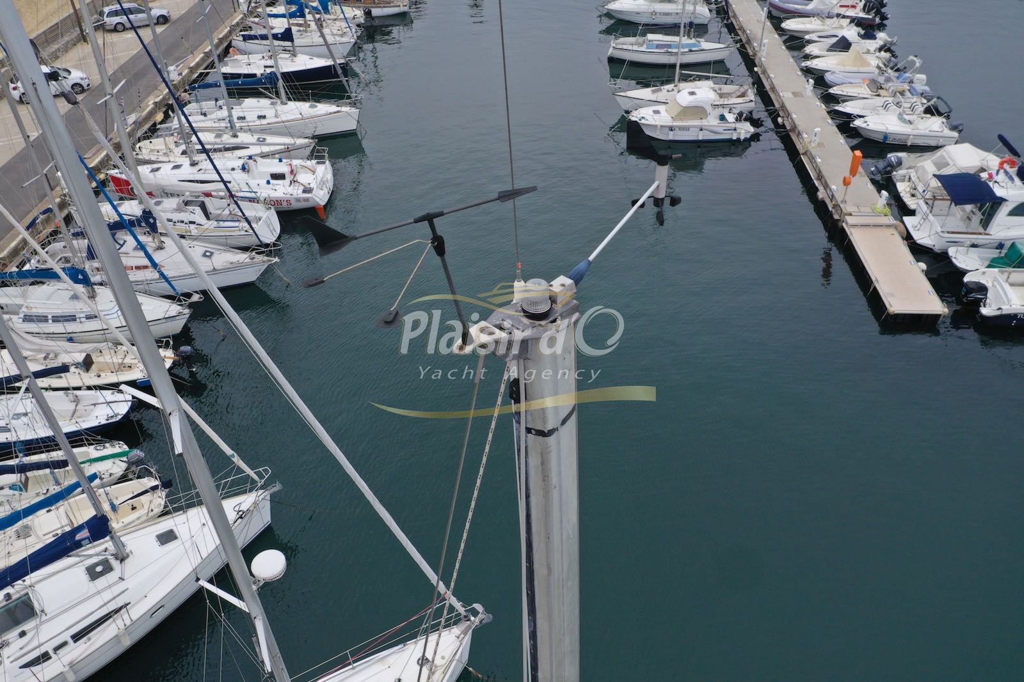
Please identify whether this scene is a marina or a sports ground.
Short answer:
marina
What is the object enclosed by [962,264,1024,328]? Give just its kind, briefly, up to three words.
boat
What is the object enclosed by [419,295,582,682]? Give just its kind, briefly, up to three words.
boat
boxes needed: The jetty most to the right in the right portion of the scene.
[842,219,954,328]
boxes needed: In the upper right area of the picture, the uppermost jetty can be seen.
[722,0,898,230]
